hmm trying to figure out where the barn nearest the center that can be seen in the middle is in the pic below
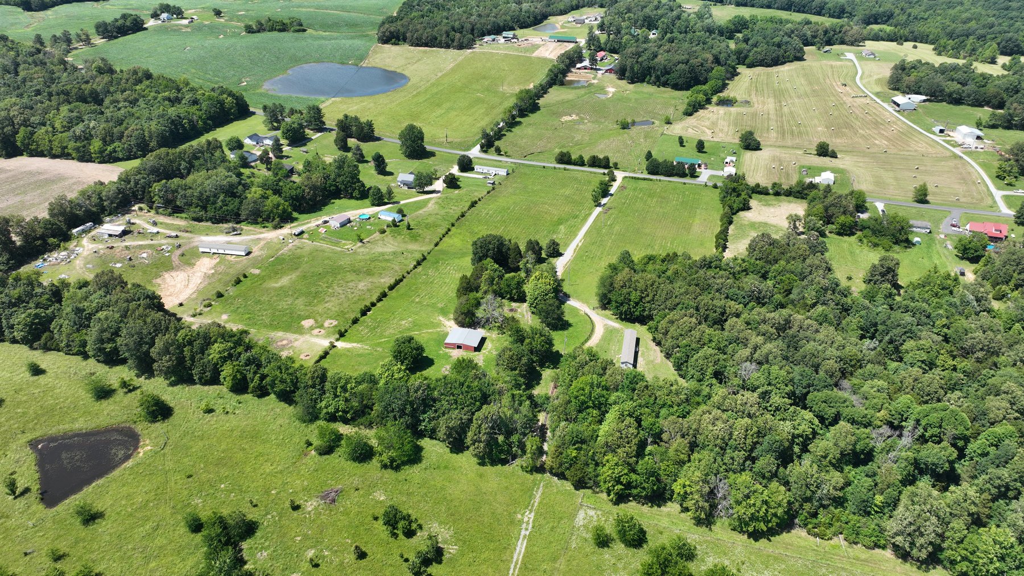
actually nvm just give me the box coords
[442,324,483,352]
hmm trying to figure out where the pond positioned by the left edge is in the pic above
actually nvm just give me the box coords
[29,426,141,509]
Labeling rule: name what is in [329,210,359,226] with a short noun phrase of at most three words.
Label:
building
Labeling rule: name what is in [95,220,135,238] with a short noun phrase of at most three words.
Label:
shed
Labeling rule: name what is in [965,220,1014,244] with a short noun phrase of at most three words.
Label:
house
